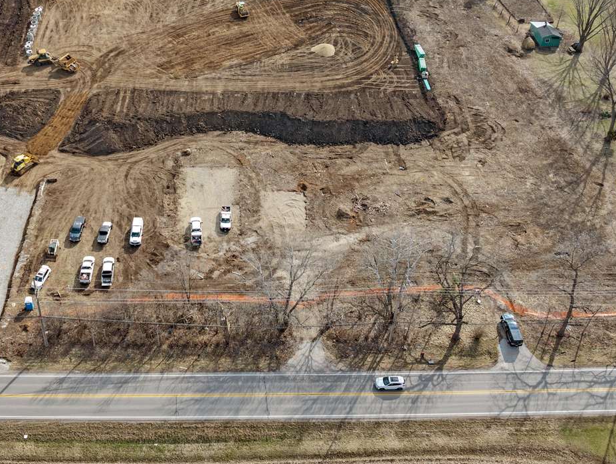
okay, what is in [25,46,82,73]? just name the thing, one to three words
work vehicle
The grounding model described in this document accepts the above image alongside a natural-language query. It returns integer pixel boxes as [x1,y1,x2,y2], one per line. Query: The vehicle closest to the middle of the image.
[218,204,232,231]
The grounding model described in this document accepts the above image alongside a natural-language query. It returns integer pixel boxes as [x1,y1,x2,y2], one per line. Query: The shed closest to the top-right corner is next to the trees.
[534,16,563,48]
